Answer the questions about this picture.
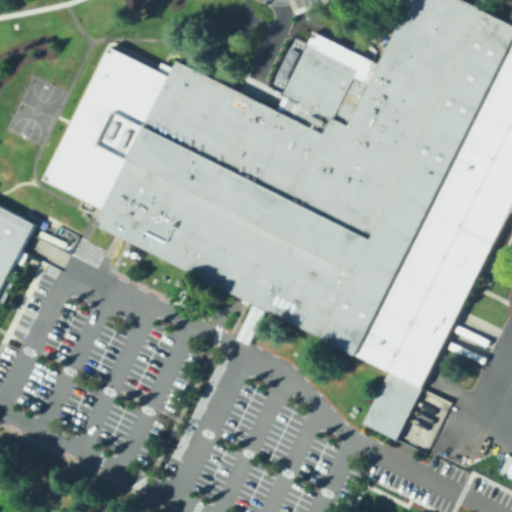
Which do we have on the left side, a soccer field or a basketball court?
basketball court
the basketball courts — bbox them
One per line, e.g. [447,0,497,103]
[7,73,68,148]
